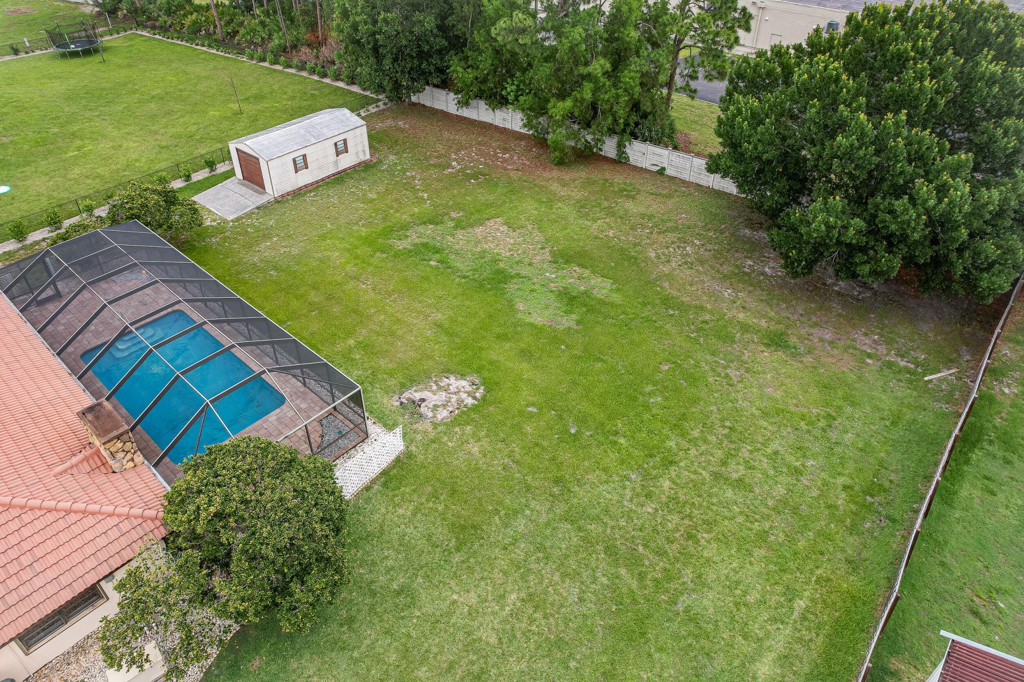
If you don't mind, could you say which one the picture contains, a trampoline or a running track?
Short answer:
trampoline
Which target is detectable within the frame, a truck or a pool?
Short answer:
pool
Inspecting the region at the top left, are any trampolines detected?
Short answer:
Yes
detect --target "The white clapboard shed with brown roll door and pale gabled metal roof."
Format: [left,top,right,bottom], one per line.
[224,105,366,196]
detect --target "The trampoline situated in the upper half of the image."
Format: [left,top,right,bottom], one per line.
[40,18,109,66]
